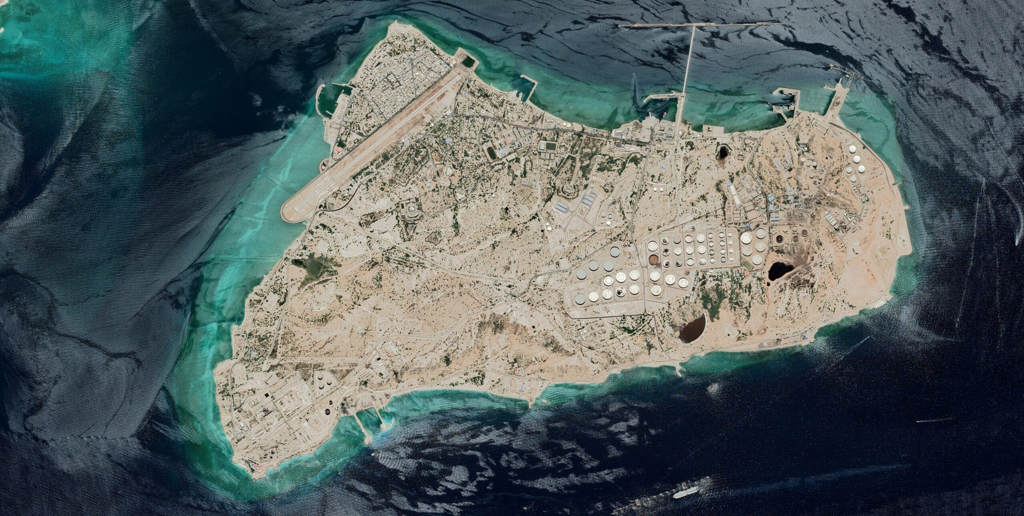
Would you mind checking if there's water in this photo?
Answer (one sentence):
Yes, water shows up in the scene.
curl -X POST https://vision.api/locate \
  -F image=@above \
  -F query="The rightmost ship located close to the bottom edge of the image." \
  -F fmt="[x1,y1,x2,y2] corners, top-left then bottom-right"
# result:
[673,486,698,499]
